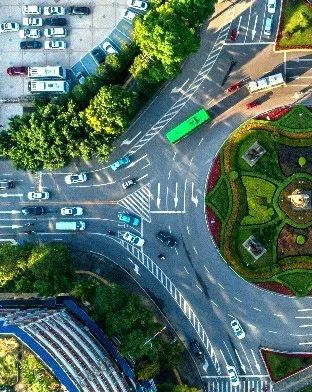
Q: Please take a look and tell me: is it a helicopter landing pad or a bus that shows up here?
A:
bus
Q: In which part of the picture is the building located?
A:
bottom left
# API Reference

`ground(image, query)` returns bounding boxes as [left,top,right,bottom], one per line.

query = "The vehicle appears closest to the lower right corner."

[225,364,241,388]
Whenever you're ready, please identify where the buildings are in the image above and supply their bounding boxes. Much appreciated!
[0,292,143,392]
